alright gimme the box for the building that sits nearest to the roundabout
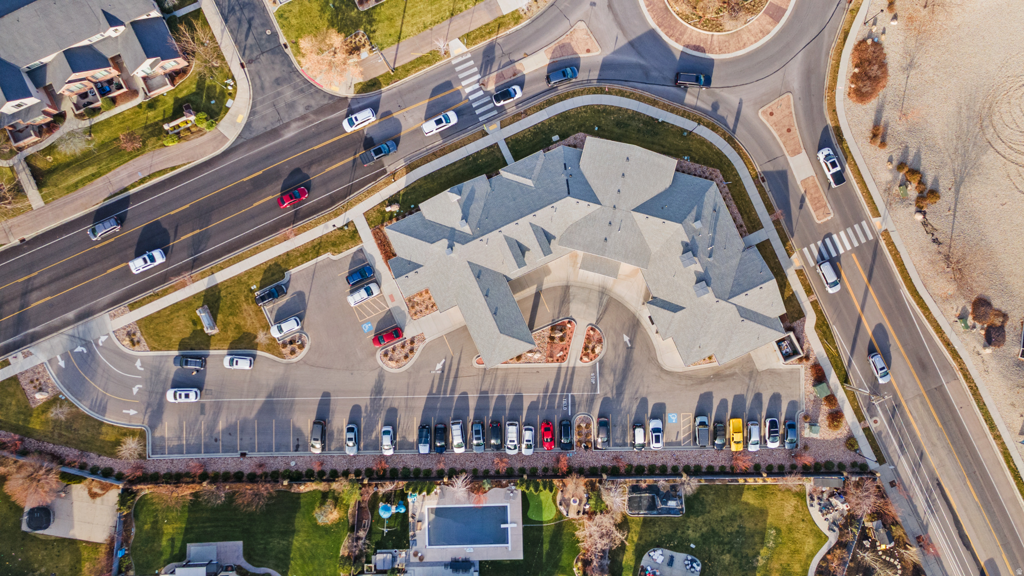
[387,134,786,370]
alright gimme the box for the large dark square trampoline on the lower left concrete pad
[19,506,54,535]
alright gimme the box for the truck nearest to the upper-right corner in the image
[818,147,846,188]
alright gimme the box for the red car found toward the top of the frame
[276,188,309,209]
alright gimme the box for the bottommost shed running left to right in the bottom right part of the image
[809,474,844,488]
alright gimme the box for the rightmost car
[867,352,890,383]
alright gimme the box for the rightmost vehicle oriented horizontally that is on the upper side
[675,71,710,88]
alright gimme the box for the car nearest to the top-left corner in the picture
[88,217,123,238]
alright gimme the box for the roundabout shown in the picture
[639,0,795,58]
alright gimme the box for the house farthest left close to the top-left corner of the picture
[0,0,183,143]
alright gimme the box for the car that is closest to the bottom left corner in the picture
[166,388,200,403]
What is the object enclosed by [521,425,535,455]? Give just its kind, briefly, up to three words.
car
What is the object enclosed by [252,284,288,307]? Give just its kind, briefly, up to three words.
truck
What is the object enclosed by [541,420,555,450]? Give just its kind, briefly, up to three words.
car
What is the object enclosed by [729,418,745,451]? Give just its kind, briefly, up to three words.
vehicle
